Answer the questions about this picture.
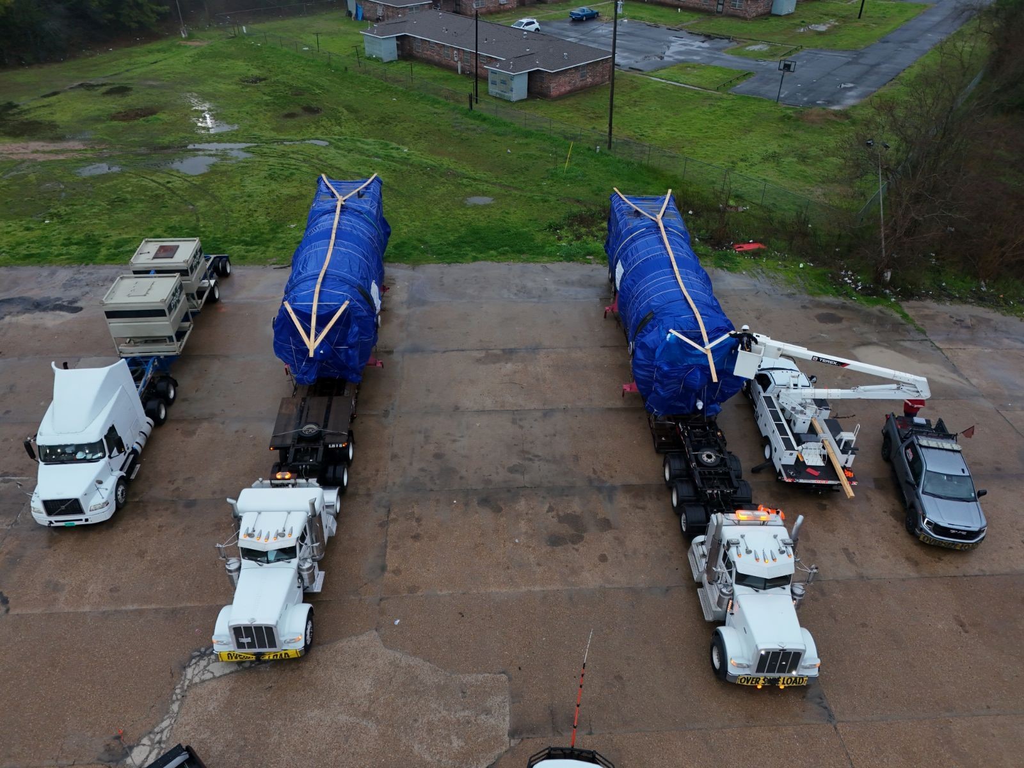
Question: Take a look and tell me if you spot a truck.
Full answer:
Yes, a truck appears in the view.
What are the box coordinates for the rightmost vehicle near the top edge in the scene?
[568,8,599,20]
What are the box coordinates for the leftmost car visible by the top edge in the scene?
[510,17,541,30]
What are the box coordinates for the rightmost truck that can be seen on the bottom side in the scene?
[881,413,993,557]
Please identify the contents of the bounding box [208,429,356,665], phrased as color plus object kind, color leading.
white truck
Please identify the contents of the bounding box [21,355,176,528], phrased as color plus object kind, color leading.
white truck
